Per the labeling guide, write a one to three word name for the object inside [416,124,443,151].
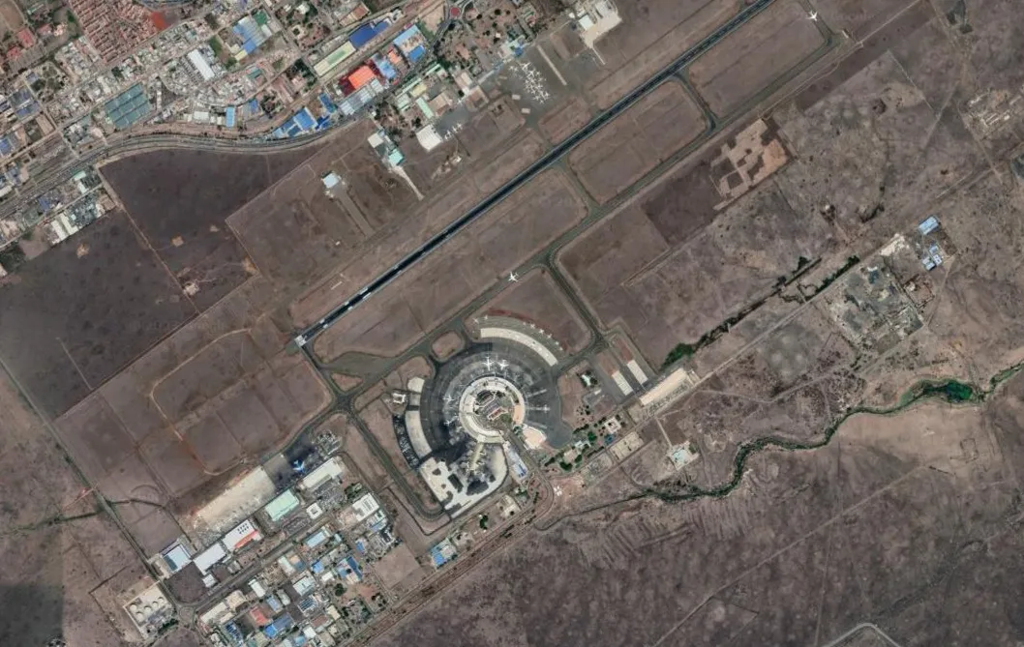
hangar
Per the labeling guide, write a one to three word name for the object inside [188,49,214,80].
building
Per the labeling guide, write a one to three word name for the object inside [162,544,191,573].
building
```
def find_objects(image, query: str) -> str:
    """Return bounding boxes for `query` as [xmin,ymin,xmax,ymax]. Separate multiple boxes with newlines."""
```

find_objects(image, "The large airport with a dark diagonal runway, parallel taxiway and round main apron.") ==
[189,0,852,537]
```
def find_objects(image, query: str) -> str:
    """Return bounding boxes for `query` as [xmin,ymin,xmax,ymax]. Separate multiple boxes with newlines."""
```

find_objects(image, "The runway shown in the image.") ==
[297,0,772,344]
